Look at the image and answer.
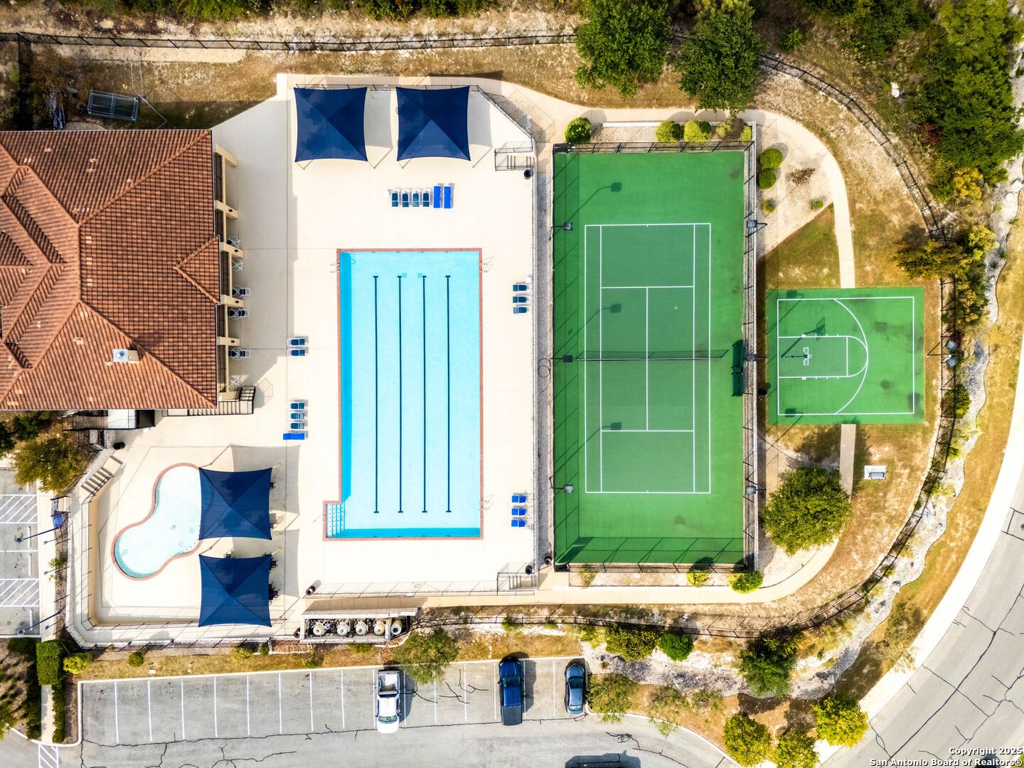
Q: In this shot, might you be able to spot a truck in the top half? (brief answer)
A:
No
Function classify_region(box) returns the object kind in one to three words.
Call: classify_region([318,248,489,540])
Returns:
swimming pool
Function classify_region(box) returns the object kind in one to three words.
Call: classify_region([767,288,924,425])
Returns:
basketball court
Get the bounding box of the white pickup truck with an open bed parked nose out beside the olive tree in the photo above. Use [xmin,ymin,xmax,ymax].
[372,669,400,736]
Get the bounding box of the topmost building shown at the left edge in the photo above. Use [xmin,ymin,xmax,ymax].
[0,128,244,412]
